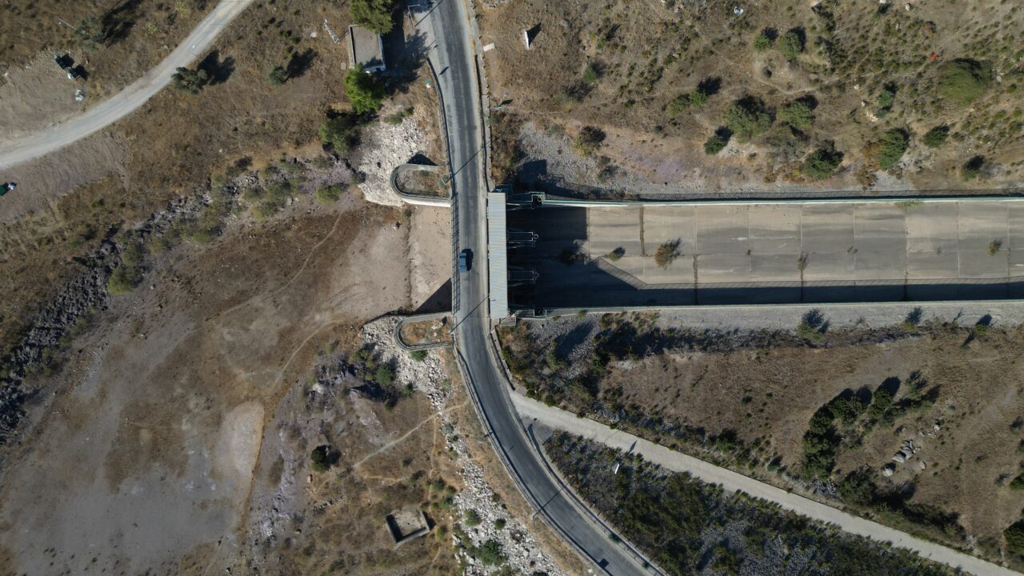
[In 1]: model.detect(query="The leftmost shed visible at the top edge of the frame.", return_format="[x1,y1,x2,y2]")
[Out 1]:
[349,25,389,81]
